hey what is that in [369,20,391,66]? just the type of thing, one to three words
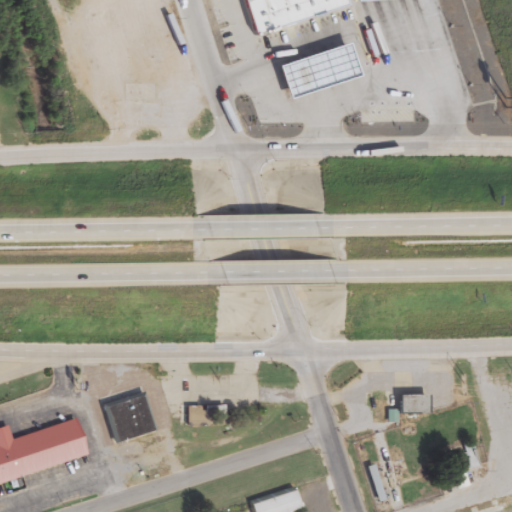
truck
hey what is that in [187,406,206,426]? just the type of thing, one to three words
house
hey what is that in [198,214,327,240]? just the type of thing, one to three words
bridge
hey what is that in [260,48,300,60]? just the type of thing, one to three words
vehicle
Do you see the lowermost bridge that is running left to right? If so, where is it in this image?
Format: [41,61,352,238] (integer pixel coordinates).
[210,260,344,284]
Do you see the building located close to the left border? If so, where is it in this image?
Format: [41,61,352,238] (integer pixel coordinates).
[0,418,88,482]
